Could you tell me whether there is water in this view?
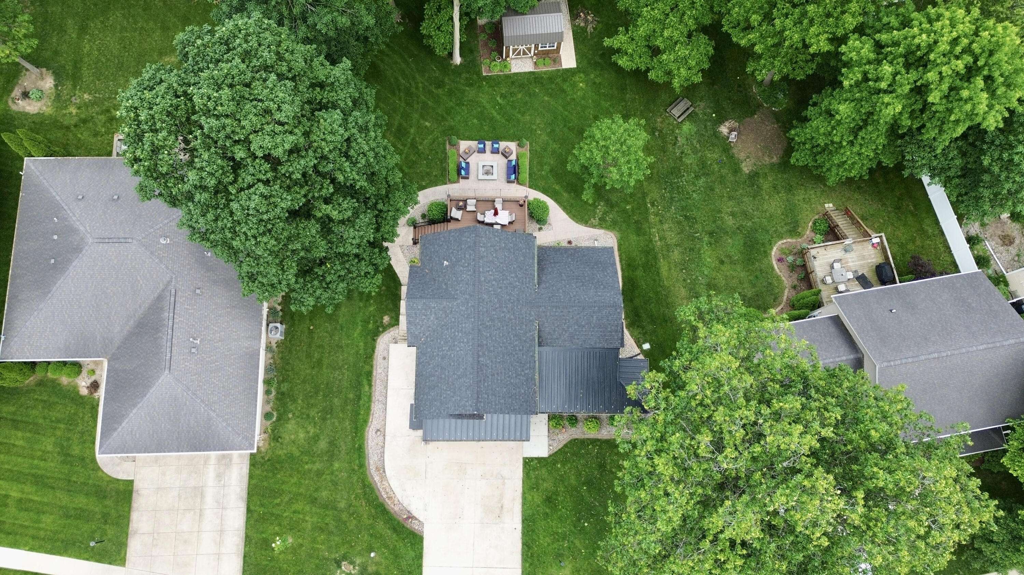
No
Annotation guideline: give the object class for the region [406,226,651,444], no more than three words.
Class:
house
